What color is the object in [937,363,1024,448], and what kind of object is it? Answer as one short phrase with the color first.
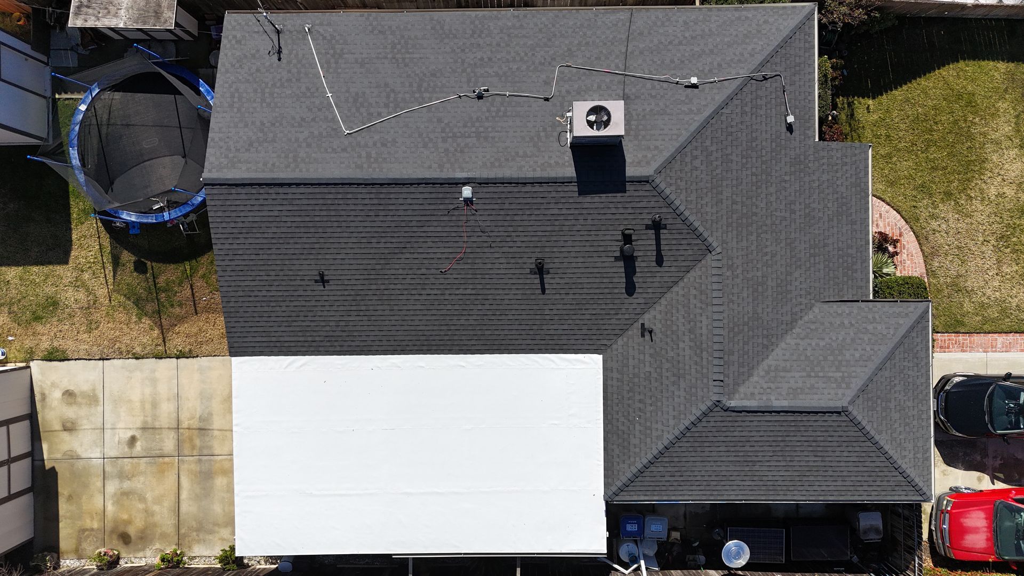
black car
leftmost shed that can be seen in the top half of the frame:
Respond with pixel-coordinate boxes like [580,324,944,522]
[0,34,50,144]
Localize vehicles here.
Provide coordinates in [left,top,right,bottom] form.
[937,363,1024,448]
[924,481,1024,576]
